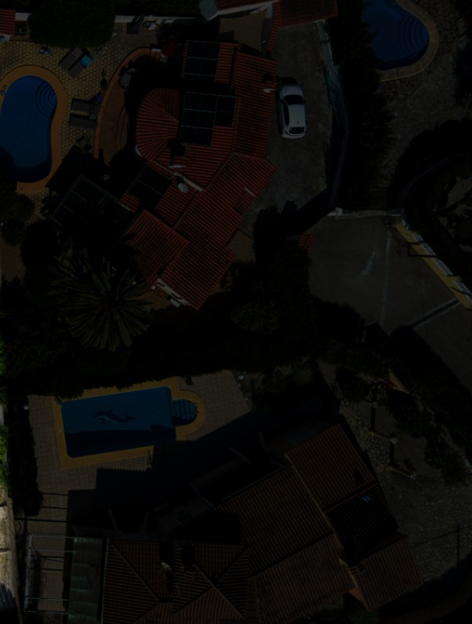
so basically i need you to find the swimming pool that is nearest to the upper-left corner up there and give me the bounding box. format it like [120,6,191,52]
[0,65,67,193]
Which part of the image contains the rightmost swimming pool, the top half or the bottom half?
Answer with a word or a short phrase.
top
